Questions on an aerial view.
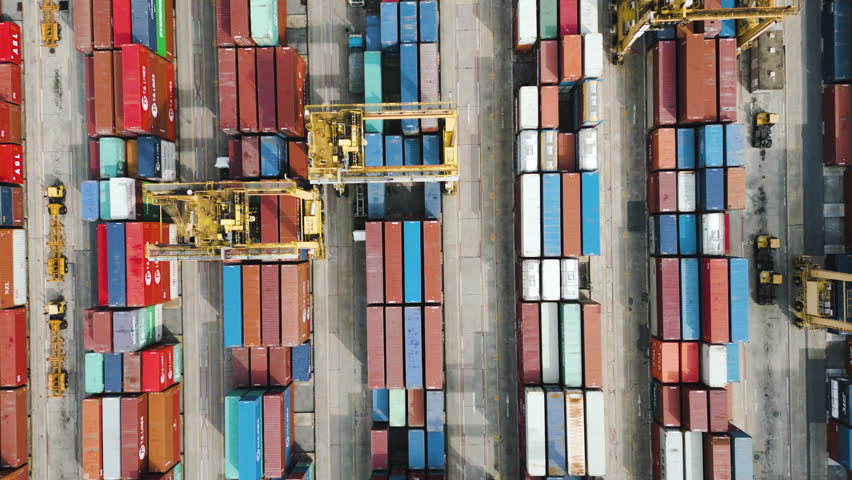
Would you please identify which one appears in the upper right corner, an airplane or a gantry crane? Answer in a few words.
gantry crane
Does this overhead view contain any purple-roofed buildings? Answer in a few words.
No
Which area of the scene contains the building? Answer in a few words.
top right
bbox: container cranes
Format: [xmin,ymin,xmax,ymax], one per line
[795,259,852,332]
[141,180,323,265]
[607,0,806,65]
[305,101,459,195]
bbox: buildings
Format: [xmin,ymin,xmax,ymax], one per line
[750,28,785,92]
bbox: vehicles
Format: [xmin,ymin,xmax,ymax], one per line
[214,156,235,187]
[42,0,62,48]
[47,300,71,398]
[47,185,70,282]
[346,0,365,11]
[345,33,365,94]
[754,234,781,270]
[755,270,783,306]
[751,111,779,149]
[350,183,367,241]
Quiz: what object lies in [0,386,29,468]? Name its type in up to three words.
shipping container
